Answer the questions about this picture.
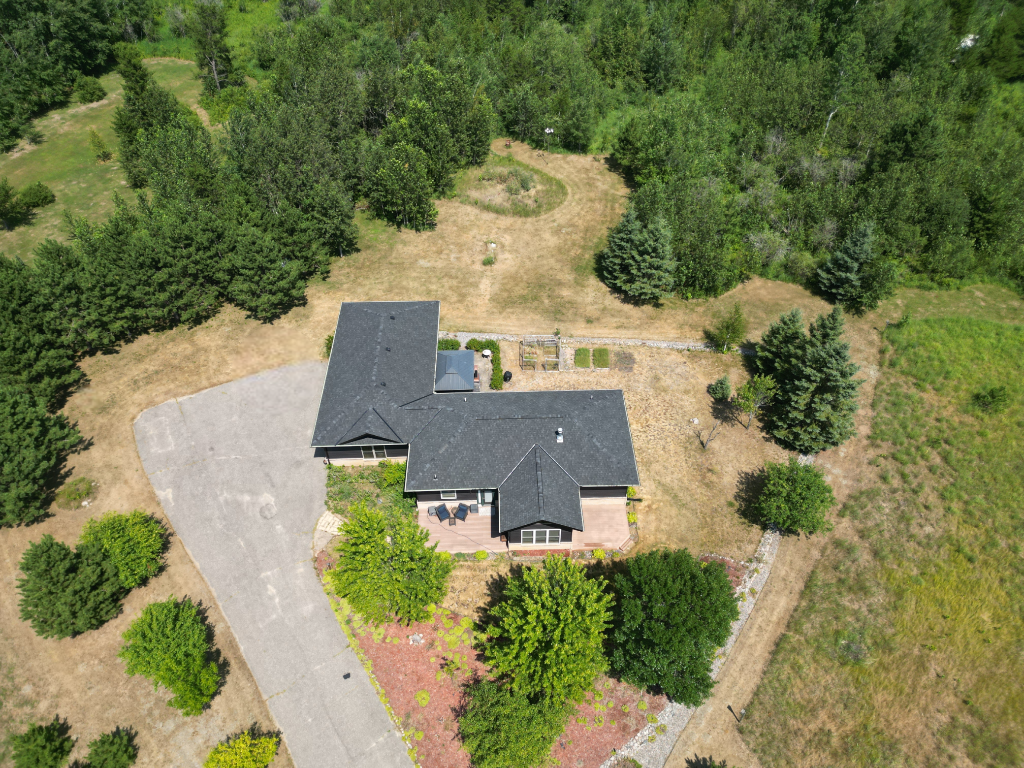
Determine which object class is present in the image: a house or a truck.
house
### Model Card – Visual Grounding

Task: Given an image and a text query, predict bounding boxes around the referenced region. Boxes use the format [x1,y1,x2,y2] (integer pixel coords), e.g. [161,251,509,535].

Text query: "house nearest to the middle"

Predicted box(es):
[310,300,641,552]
